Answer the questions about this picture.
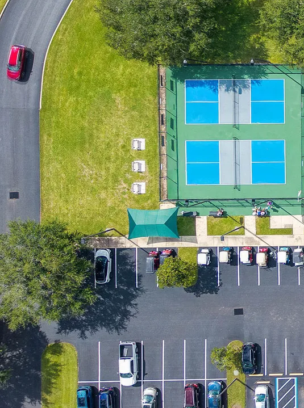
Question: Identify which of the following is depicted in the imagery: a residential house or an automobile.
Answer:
automobile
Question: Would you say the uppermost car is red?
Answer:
Yes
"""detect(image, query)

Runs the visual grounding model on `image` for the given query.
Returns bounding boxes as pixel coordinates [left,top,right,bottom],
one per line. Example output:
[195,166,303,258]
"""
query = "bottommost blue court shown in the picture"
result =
[185,140,286,185]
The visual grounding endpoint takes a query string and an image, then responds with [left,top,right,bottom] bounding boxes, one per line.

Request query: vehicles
[199,247,213,266]
[206,380,225,408]
[220,247,233,266]
[277,247,291,266]
[118,340,140,386]
[185,382,202,408]
[93,248,114,285]
[141,386,159,408]
[293,248,304,267]
[257,248,271,267]
[254,384,271,408]
[77,384,95,408]
[242,341,259,375]
[6,44,29,81]
[99,386,118,408]
[241,247,254,266]
[148,251,162,269]
[160,247,175,257]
